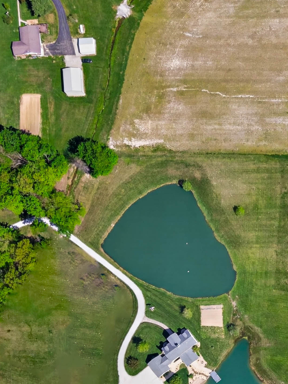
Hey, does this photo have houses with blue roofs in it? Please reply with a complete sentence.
No, the scene contains no house with a blue roof.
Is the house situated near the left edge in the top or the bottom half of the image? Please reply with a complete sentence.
You can find the house situated near the left edge in the top half.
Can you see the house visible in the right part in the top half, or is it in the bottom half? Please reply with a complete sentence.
The bottom half of the photo is where the house visible in the right part is.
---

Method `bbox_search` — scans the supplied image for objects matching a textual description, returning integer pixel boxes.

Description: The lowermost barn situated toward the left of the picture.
[62,67,85,96]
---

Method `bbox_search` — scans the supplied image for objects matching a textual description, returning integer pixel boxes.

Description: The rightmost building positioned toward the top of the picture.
[78,38,97,57]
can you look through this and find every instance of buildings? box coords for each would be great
[148,329,201,380]
[78,38,97,57]
[62,67,85,96]
[12,25,53,59]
